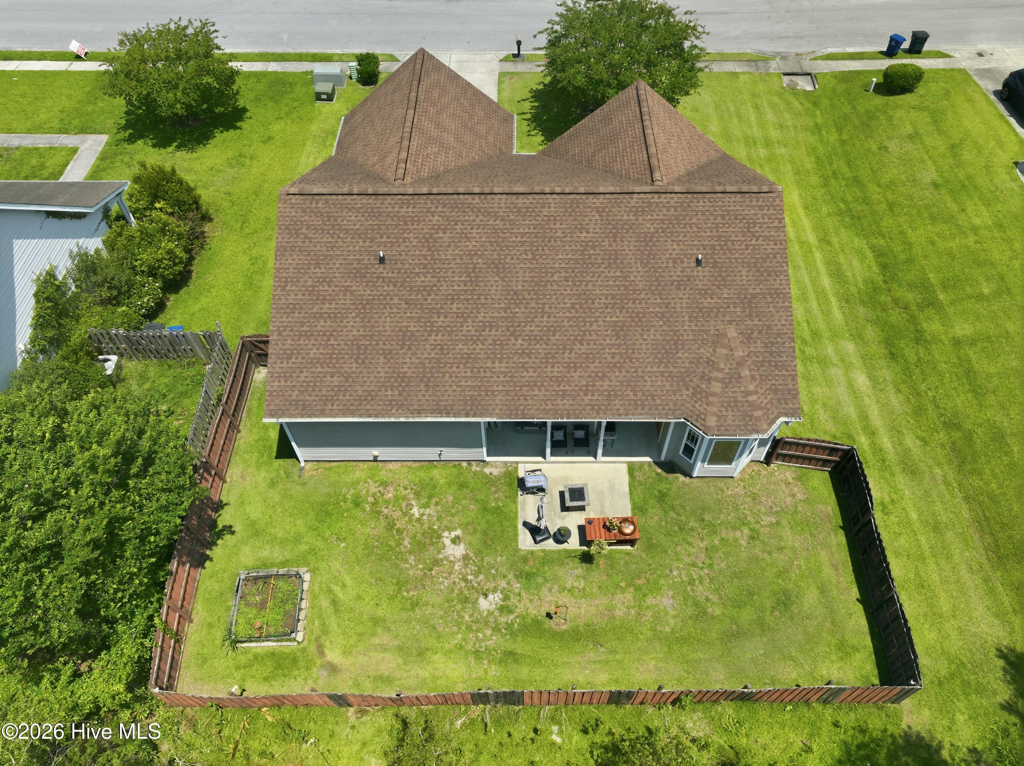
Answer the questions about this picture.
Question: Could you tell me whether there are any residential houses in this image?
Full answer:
Yes, looking at the shot, I can spot a residential house.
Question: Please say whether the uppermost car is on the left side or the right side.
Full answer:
The uppermost car sits on the right side.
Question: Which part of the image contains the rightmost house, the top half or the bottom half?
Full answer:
You can find the rightmost house in the top half.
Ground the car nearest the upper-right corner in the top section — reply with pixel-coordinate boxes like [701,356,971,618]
[1002,67,1024,112]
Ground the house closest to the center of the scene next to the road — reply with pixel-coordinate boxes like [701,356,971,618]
[262,44,801,477]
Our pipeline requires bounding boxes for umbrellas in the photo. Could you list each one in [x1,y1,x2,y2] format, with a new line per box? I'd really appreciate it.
[529,498,554,546]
